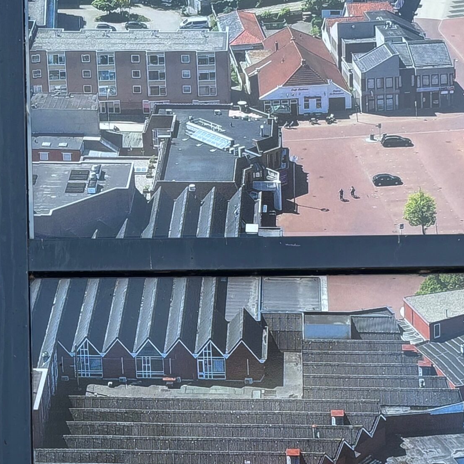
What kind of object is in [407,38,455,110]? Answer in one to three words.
building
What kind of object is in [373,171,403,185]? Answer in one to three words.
car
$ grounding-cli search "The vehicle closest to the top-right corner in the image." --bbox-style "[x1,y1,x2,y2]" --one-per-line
[380,132,414,146]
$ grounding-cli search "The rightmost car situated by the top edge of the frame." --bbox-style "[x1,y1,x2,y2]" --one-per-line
[179,16,212,30]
